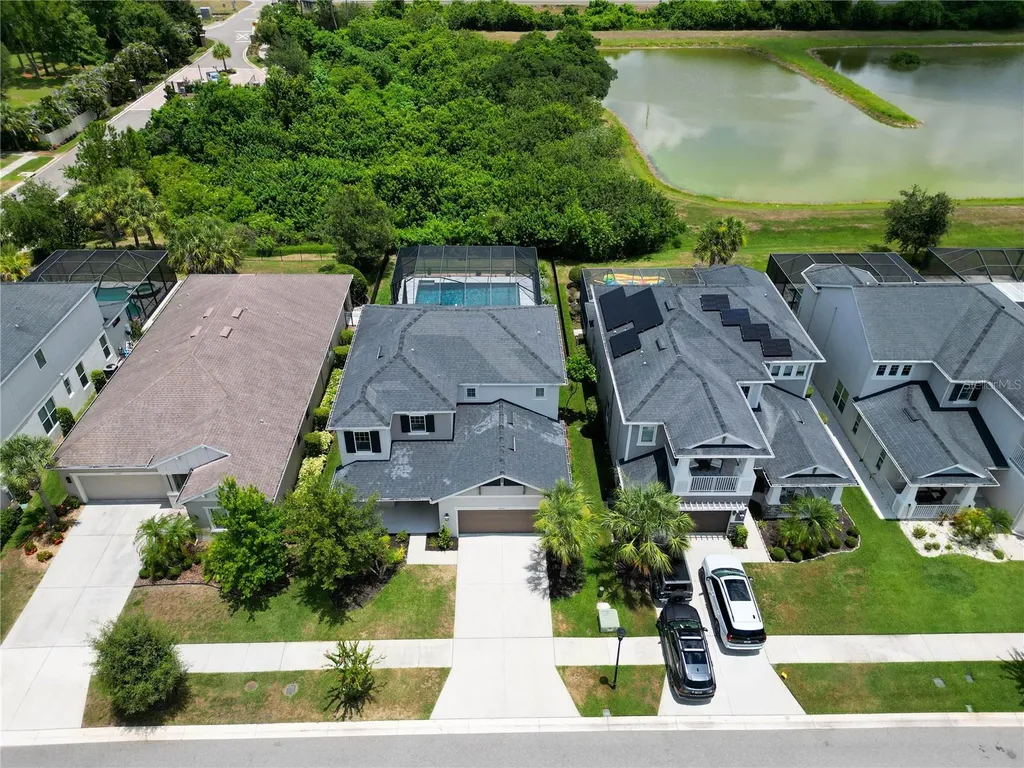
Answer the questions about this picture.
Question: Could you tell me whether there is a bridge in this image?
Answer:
No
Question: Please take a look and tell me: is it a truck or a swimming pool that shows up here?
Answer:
swimming pool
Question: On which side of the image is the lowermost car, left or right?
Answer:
right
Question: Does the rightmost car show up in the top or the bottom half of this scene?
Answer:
bottom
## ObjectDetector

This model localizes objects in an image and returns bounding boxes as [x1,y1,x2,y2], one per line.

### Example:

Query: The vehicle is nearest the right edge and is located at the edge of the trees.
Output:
[702,562,767,650]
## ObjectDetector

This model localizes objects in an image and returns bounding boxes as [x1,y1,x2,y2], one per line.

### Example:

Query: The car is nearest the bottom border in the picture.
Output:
[659,607,718,703]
